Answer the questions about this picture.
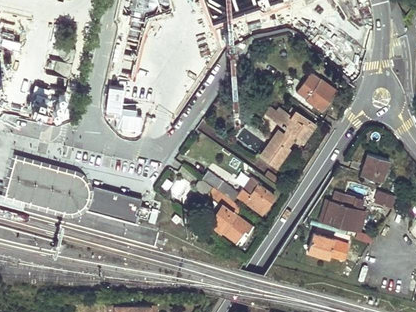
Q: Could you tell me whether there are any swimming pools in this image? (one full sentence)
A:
Yes, a swimming pool appears in the view.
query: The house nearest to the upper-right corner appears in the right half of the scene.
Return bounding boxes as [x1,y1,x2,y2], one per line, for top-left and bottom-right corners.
[297,74,337,113]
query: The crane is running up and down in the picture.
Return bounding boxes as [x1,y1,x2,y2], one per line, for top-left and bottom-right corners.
[225,0,239,120]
